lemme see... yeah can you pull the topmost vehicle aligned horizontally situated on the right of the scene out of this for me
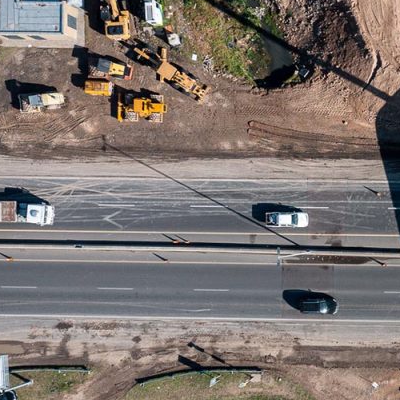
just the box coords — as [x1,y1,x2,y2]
[266,210,310,227]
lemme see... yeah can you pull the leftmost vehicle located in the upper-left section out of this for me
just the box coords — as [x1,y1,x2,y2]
[21,93,70,114]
